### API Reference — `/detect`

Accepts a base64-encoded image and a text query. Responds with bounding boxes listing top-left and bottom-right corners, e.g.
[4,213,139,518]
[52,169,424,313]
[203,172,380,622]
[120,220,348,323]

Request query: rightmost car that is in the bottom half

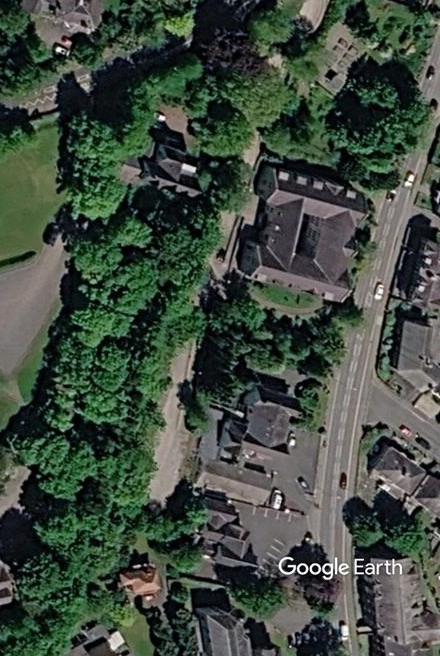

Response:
[415,436,430,449]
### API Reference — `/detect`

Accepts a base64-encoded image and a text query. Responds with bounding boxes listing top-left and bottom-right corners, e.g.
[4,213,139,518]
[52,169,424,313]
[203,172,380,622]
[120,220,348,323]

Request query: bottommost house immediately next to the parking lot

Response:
[192,604,275,656]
